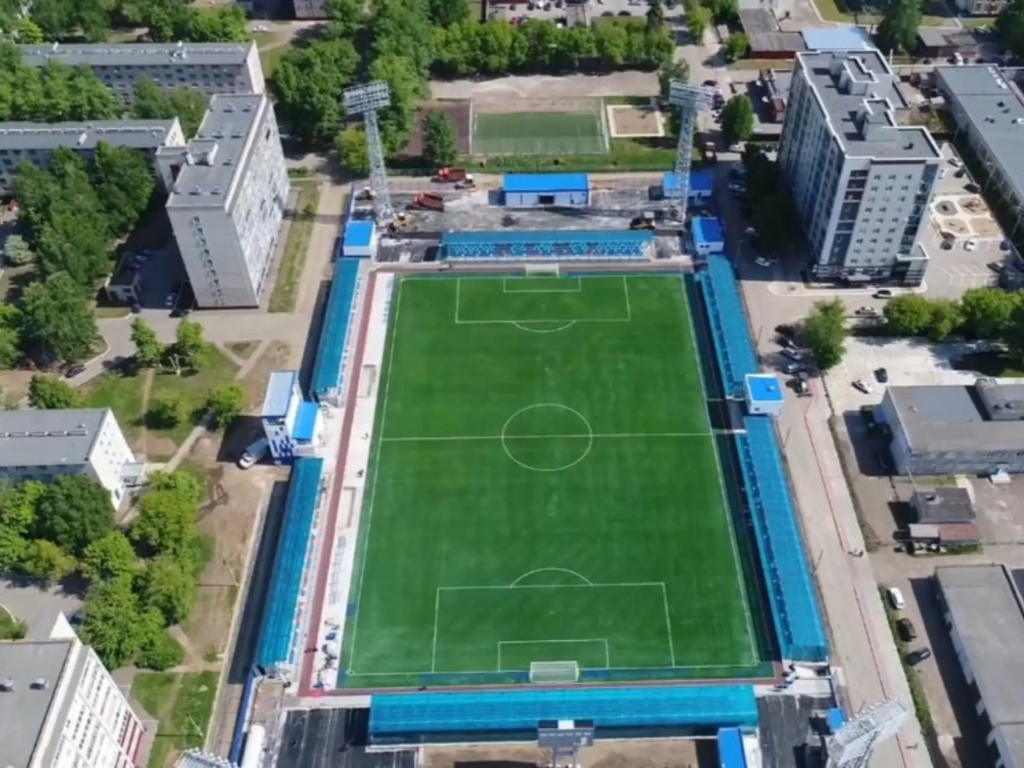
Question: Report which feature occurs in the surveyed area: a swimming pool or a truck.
truck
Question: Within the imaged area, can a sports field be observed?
Yes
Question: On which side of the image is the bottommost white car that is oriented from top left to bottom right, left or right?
right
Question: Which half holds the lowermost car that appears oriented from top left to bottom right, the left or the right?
right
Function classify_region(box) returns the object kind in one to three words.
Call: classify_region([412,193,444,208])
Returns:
vehicle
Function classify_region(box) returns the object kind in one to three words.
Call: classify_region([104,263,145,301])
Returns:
shed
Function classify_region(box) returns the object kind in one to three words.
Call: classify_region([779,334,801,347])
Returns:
vehicle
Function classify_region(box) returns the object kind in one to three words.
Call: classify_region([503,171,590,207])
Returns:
building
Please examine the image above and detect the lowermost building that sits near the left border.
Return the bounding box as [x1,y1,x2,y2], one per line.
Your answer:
[0,637,136,768]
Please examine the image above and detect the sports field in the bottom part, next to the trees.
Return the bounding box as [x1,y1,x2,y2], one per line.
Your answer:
[335,264,781,688]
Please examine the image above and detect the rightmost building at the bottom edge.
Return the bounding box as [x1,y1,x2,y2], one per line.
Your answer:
[931,565,1024,768]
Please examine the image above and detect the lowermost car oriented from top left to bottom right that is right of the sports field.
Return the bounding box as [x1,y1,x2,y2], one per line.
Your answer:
[895,616,920,643]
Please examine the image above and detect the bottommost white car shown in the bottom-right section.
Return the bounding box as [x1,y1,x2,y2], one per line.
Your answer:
[883,584,910,612]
